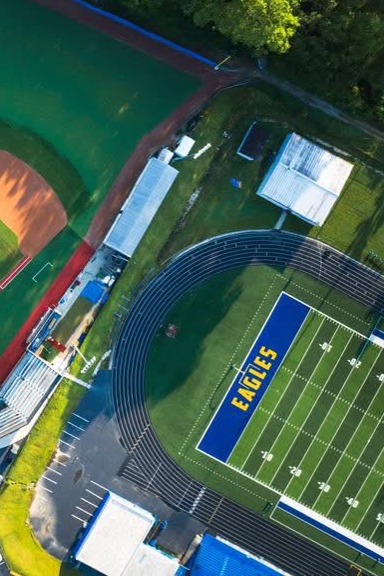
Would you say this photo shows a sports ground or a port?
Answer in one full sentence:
The picture captures a sports ground.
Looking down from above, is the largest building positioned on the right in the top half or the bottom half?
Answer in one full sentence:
The top half of the photo is where the largest building positioned on the right is.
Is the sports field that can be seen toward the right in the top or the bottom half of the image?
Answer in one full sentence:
Seen from above, the sports field that can be seen toward the right lies in the bottom half of the view.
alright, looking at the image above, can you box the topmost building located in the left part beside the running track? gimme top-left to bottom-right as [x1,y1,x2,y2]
[102,159,180,256]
